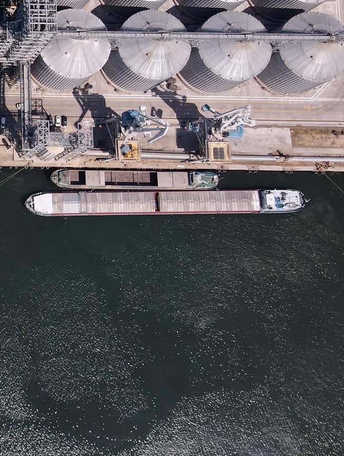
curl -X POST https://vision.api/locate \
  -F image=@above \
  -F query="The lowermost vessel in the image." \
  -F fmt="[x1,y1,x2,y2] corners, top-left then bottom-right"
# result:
[24,188,309,217]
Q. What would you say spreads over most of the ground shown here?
water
